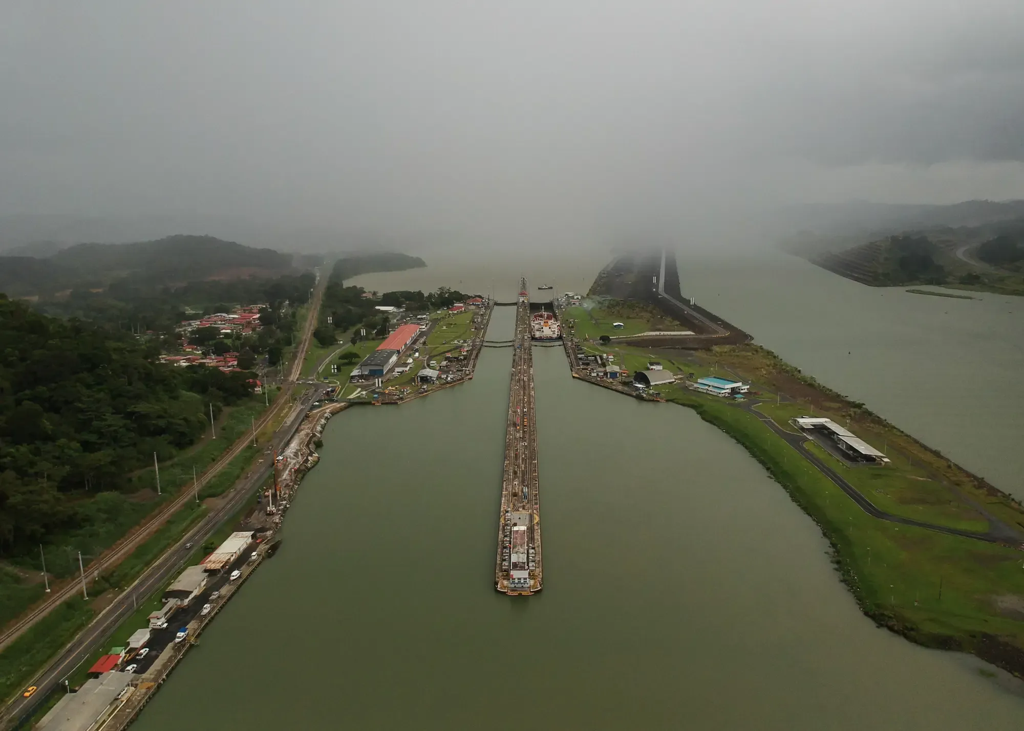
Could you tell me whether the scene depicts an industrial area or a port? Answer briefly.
port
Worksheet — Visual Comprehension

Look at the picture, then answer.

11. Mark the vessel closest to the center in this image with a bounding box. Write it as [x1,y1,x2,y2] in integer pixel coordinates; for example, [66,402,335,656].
[531,309,559,343]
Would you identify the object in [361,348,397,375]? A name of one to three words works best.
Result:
building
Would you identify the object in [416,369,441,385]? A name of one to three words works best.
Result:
building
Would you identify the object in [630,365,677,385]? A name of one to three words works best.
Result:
hangar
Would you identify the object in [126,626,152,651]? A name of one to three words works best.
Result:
shed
